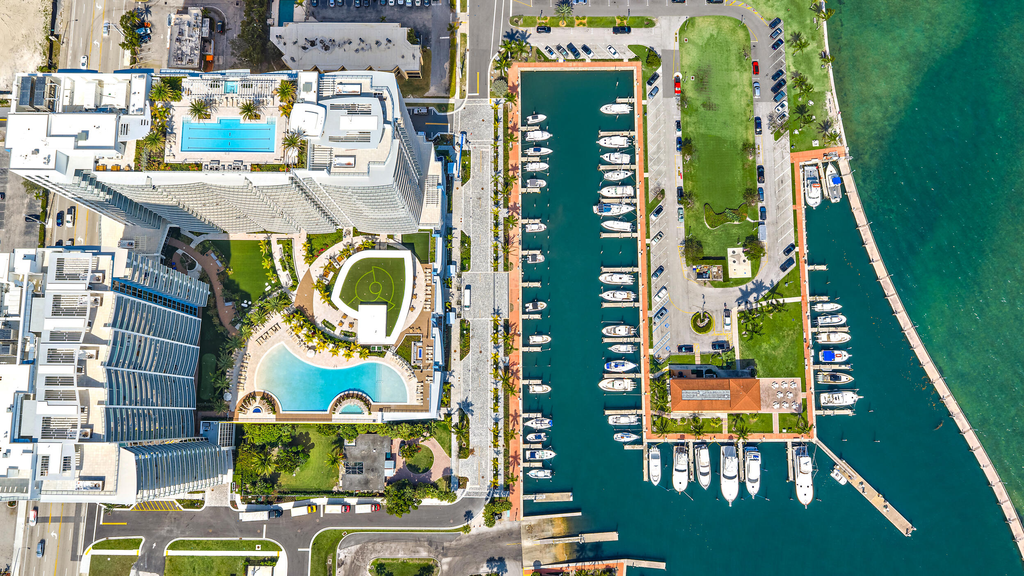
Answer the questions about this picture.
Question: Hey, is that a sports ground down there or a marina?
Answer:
marina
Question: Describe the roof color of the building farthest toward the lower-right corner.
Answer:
orange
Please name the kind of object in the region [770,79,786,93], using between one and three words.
vehicle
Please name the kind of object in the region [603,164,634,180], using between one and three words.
boat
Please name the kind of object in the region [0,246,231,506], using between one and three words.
building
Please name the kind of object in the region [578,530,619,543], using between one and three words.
pier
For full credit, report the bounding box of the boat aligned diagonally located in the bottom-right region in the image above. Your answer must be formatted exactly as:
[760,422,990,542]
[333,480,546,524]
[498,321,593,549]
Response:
[830,469,847,485]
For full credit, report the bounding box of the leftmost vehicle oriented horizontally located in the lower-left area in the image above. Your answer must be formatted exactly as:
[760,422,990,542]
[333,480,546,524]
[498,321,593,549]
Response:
[236,509,282,521]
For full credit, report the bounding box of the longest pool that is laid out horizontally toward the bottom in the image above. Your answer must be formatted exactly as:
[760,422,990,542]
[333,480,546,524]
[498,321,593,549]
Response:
[254,342,409,412]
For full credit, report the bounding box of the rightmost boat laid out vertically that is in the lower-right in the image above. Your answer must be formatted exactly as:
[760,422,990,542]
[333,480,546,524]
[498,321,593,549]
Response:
[793,446,817,510]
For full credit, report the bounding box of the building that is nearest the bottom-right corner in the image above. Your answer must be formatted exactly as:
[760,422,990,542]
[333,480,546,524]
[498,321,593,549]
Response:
[670,374,761,412]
